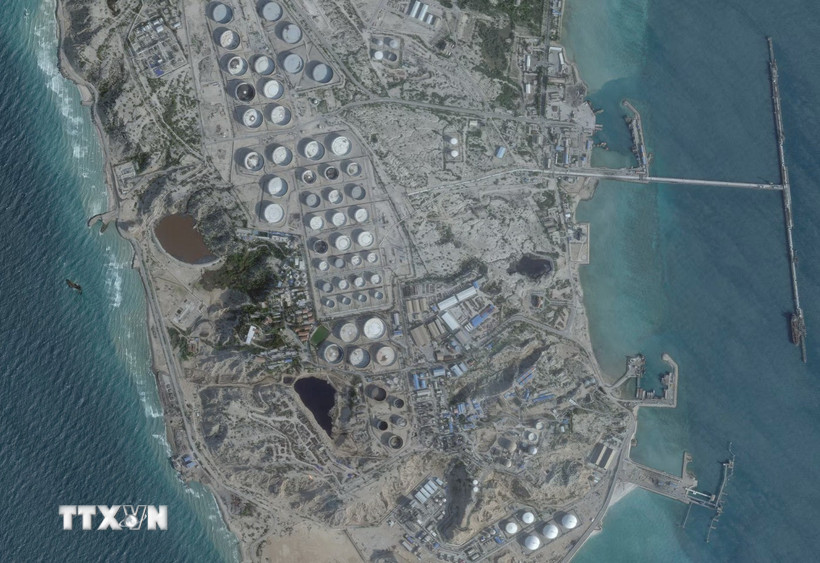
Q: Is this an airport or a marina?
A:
marina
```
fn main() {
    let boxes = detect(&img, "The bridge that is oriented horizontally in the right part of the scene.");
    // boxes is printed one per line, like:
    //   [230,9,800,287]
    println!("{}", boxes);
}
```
[644,177,782,190]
